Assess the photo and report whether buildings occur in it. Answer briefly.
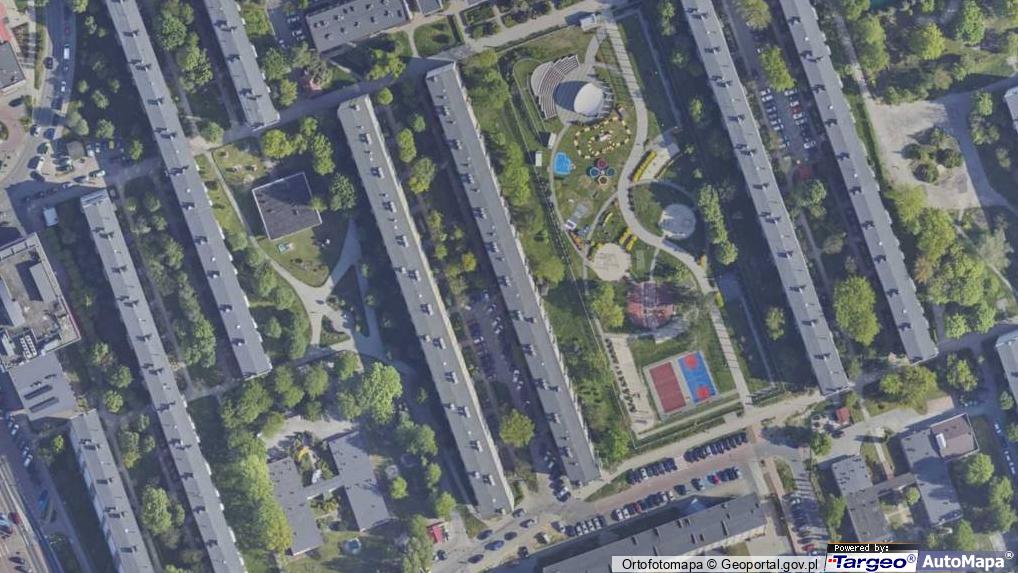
Yes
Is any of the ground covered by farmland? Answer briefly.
No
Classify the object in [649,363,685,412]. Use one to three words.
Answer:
sports court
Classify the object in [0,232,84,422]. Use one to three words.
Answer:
building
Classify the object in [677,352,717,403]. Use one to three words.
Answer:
basketball court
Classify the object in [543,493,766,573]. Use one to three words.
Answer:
building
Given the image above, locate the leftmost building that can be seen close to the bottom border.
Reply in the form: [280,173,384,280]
[71,407,158,573]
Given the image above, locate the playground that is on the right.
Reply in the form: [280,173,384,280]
[627,282,672,331]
